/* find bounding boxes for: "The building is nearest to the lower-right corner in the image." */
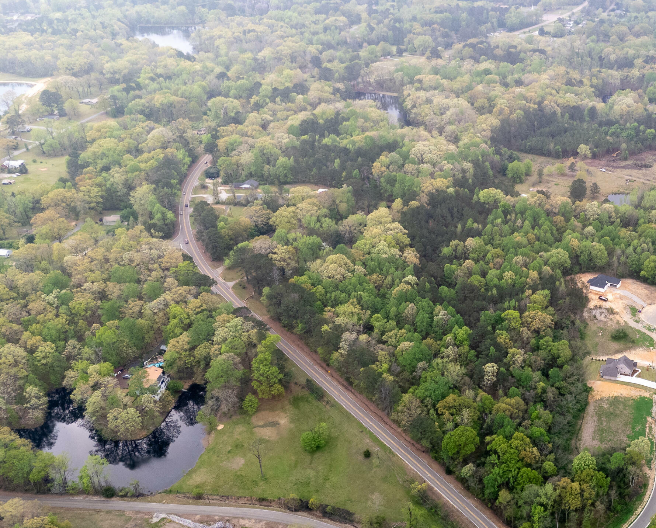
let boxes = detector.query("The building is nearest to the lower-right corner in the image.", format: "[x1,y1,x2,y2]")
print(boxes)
[600,351,644,380]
